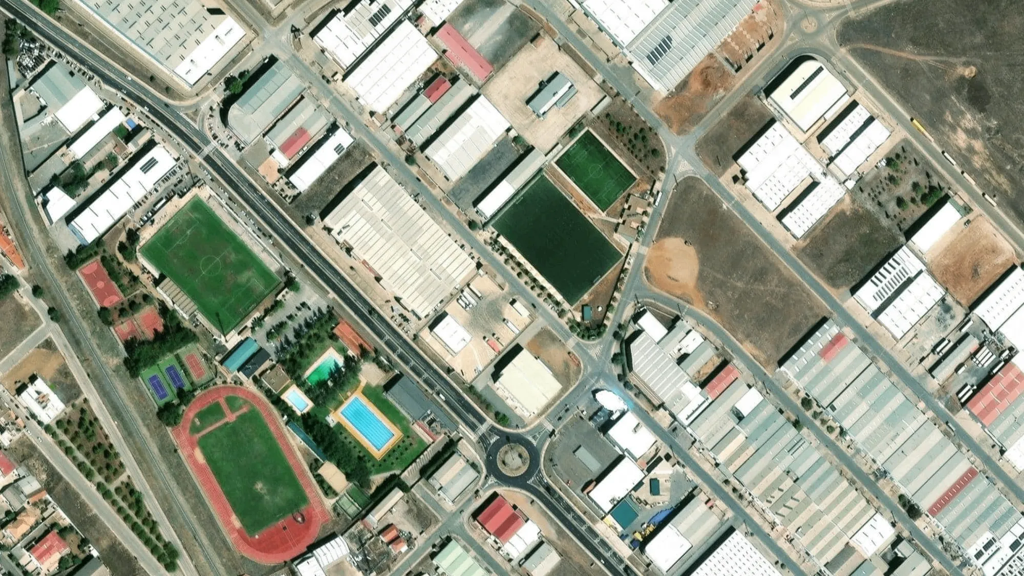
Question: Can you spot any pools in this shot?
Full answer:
Yes, there is a pool in the image.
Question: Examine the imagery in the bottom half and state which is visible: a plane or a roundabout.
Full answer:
Looking in the bottom half, you will find a roundabout.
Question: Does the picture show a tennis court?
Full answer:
Yes, the frame does contain a tennis court.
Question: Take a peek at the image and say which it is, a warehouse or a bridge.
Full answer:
I can see a warehouse in this picture.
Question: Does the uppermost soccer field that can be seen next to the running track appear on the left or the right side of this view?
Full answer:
The uppermost soccer field that can be seen next to the running track is on the left side of the image.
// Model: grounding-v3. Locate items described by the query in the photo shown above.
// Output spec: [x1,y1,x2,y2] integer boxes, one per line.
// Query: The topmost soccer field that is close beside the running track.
[132,187,286,340]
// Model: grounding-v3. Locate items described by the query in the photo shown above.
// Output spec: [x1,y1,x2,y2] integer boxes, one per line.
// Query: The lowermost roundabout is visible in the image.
[486,433,539,486]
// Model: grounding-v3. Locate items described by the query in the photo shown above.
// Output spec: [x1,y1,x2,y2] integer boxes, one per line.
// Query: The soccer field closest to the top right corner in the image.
[550,126,641,215]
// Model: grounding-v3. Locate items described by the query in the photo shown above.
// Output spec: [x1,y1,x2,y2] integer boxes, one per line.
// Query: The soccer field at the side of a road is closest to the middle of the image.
[485,170,628,312]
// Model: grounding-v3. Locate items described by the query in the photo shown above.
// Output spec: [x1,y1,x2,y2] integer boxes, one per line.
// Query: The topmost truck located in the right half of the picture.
[912,119,936,144]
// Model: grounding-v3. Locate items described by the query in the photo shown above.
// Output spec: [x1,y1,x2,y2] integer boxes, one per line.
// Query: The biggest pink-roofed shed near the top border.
[434,23,493,82]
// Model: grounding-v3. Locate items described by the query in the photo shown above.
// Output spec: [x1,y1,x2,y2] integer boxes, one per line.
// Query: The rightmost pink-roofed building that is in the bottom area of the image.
[965,363,1024,428]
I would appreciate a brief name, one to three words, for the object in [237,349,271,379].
building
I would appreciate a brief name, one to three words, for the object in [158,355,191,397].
tennis court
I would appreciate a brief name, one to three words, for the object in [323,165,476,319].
warehouse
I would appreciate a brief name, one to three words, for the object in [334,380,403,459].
swimming pool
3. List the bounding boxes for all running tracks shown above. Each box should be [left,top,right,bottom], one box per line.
[171,384,329,565]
